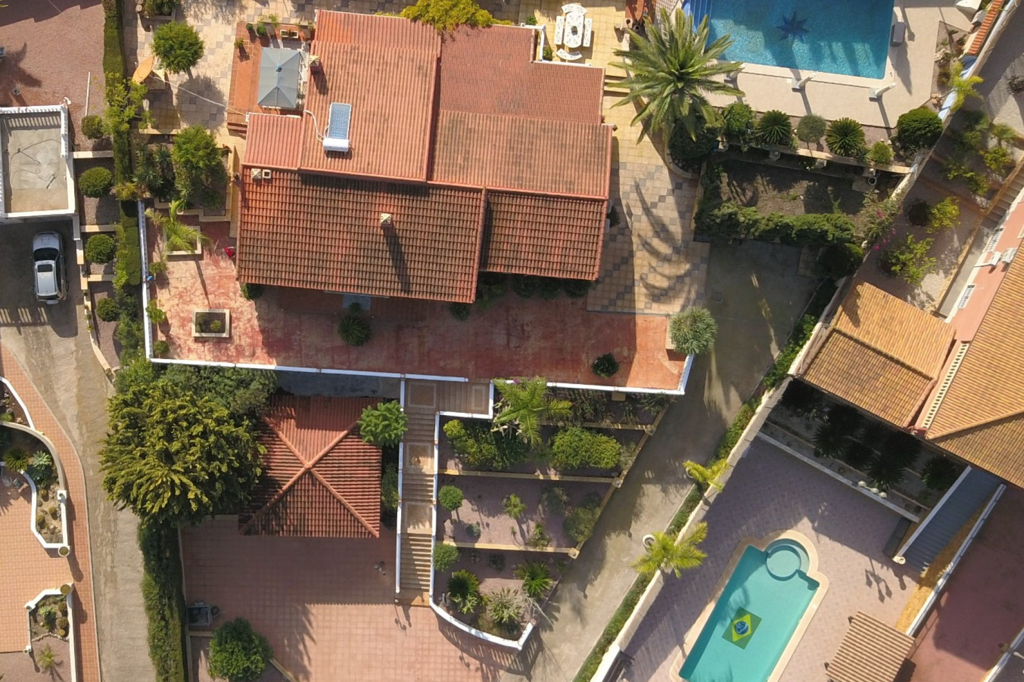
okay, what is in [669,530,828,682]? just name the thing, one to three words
swimming pool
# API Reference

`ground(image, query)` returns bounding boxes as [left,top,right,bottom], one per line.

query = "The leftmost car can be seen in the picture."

[31,235,70,306]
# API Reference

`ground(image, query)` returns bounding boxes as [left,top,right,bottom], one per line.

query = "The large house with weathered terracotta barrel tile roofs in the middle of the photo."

[235,8,614,326]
